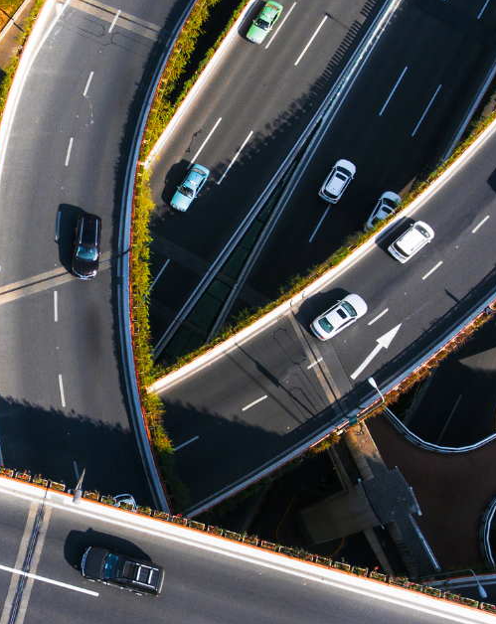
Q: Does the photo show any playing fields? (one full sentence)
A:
No, the frame has no playing field in it.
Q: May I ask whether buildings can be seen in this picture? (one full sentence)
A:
No, there appears to be no building in this shot.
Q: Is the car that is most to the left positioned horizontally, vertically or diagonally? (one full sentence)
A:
The car that is most to the left is laid out vertically.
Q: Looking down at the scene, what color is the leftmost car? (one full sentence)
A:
The color of the leftmost car is black.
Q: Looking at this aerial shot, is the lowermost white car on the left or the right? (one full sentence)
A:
You can find the lowermost white car on the right side of the picture.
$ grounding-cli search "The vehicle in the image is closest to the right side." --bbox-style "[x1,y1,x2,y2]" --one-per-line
[385,221,437,267]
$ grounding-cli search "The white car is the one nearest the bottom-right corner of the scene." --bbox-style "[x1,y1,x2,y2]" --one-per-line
[312,296,367,342]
